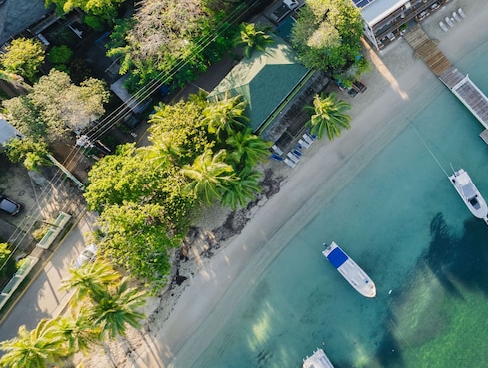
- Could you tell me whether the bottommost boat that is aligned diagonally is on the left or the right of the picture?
right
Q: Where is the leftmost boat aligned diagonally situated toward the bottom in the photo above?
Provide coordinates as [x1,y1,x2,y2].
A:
[318,242,379,302]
